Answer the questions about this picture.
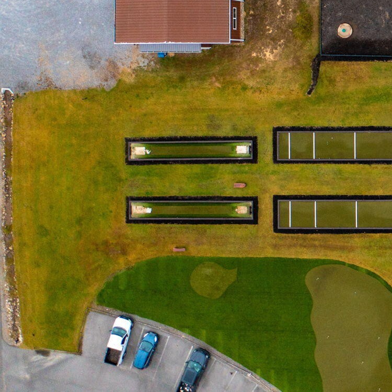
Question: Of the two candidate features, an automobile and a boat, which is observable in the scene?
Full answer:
Visible in the photo is an automobile.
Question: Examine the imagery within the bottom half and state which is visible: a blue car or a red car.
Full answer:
You can see a blue car within the bottom half.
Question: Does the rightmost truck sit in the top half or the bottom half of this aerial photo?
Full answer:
The rightmost truck sits in the bottom half of the picture.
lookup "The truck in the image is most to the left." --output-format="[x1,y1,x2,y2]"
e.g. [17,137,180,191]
[102,312,137,367]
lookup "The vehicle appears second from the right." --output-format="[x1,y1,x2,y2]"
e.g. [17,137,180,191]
[133,328,162,370]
